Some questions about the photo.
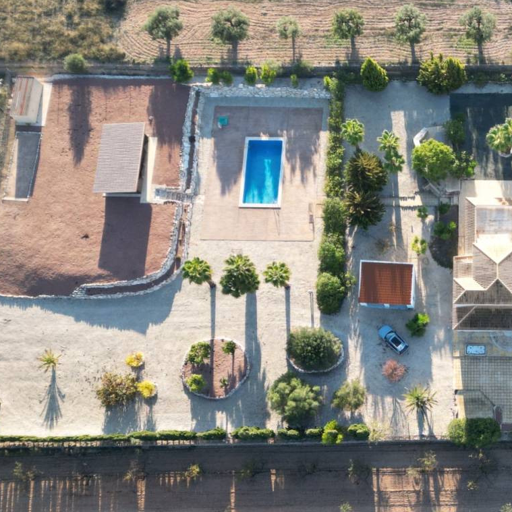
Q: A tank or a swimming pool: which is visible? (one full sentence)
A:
This aerial view contains a swimming pool.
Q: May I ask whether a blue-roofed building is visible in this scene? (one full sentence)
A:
No, the photo shows no blue-roofed building.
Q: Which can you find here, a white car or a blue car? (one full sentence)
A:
Visible in the photo is a blue car.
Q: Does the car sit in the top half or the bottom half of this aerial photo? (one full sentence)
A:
The car sits in the bottom half of the picture.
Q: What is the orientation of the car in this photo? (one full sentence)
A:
In this picture, the car lies on a diagonal.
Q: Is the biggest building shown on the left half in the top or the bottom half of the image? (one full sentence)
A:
The biggest building shown on the left half sits in the top half of the picture.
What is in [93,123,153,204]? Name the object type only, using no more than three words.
building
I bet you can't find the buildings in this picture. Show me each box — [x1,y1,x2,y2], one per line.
[453,196,512,335]
[93,123,153,204]
[358,259,417,311]
[11,76,46,129]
